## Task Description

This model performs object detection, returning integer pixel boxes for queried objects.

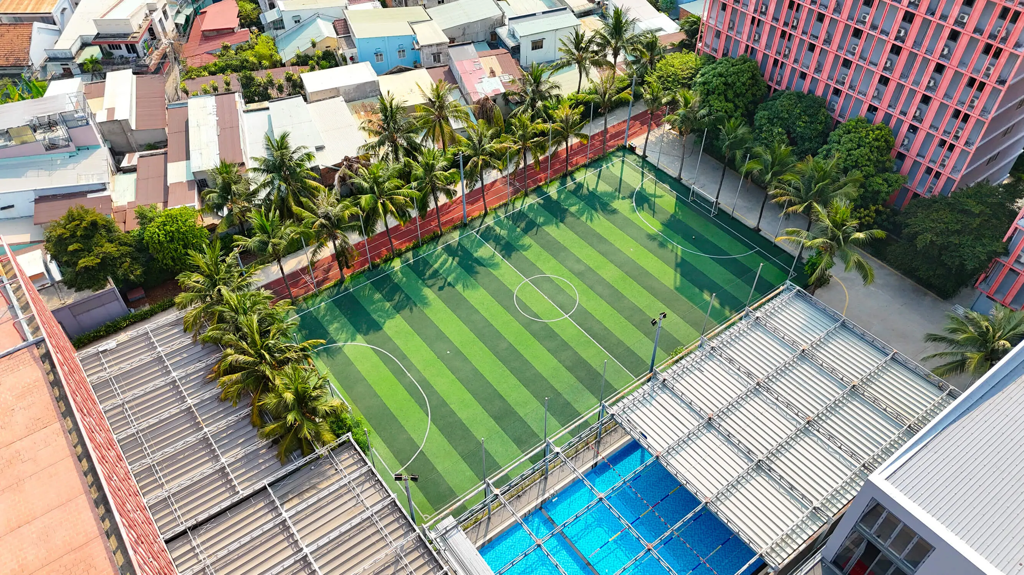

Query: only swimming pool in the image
[483,440,759,575]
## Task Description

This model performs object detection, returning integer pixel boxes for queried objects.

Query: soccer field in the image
[283,148,816,539]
